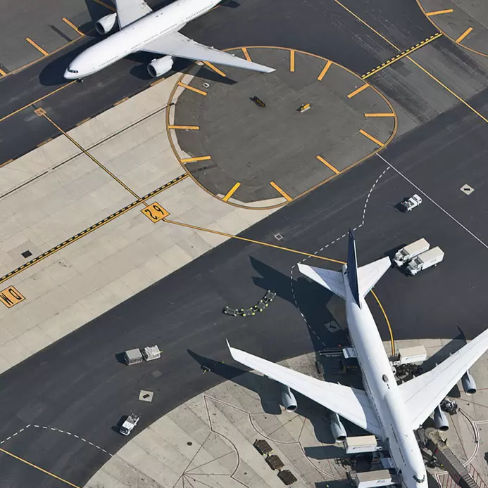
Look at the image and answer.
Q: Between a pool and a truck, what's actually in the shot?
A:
truck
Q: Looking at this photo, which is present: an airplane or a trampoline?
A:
airplane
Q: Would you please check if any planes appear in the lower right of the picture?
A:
Yes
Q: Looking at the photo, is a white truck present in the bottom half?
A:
Yes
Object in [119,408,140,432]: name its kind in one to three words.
vehicle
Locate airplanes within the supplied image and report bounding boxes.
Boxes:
[65,0,277,80]
[230,226,488,488]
